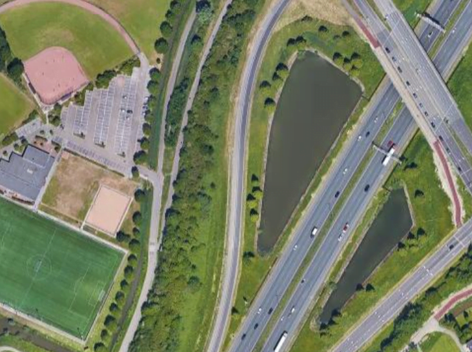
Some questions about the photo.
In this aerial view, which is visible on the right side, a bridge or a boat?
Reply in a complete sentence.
The feature located on the right side is a bridge.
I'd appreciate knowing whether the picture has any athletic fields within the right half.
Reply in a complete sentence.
No, within the right half there is no athletic field.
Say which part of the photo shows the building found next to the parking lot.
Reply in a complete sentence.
Look in the left portion of the view to spot the building found next to the parking lot.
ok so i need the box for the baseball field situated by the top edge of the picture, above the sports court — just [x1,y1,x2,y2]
[0,0,141,115]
